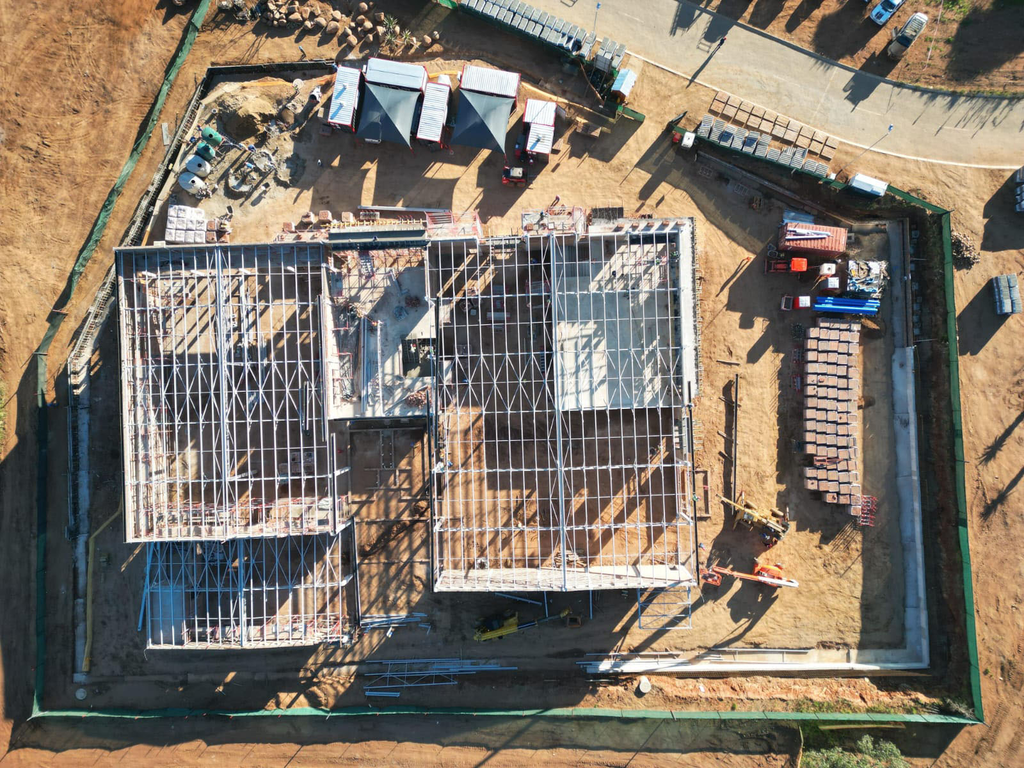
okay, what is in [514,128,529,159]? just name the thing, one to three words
work vehicle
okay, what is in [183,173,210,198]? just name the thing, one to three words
water tank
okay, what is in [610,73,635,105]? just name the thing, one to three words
shed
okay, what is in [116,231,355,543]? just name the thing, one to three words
building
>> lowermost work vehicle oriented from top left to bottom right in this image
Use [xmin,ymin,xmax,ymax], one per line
[724,496,793,545]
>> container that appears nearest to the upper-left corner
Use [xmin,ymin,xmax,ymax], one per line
[330,67,366,134]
